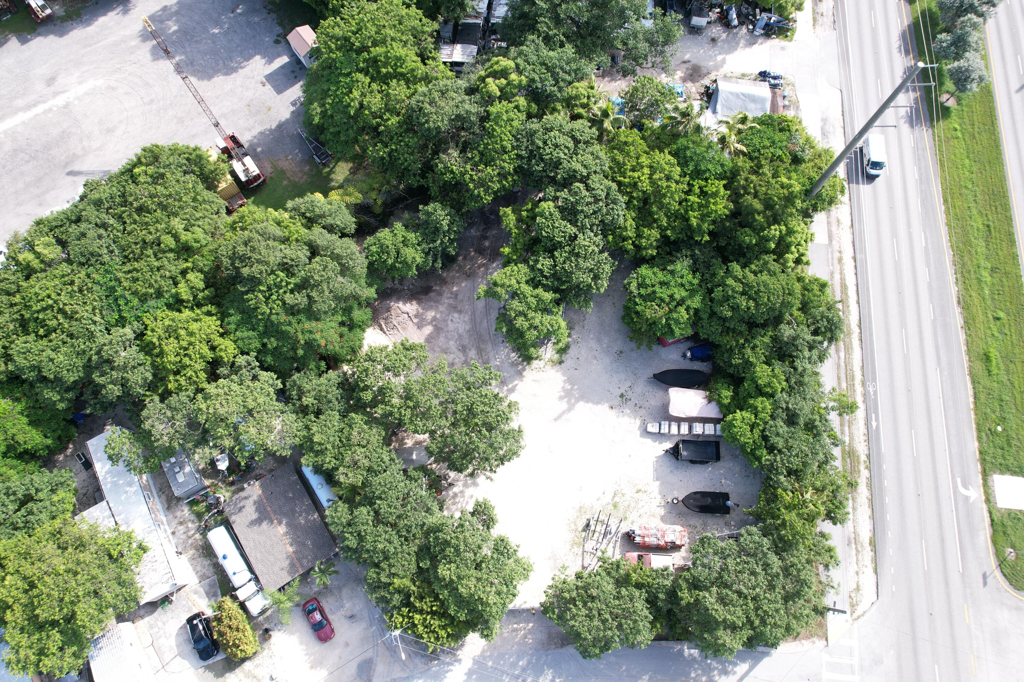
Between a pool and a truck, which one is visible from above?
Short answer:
truck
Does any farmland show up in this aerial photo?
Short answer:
No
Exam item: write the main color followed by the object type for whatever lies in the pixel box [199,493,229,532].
gray work vehicle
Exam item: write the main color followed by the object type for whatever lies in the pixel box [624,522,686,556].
white trailer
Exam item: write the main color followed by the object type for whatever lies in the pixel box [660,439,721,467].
black trailer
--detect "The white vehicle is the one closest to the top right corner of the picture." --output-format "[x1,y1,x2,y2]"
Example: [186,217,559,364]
[857,131,888,181]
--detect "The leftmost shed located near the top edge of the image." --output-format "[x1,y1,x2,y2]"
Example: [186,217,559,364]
[287,24,324,68]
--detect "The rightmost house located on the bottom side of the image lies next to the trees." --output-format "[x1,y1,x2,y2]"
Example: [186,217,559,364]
[224,463,339,588]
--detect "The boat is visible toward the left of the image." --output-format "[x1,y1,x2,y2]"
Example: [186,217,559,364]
[215,454,230,478]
